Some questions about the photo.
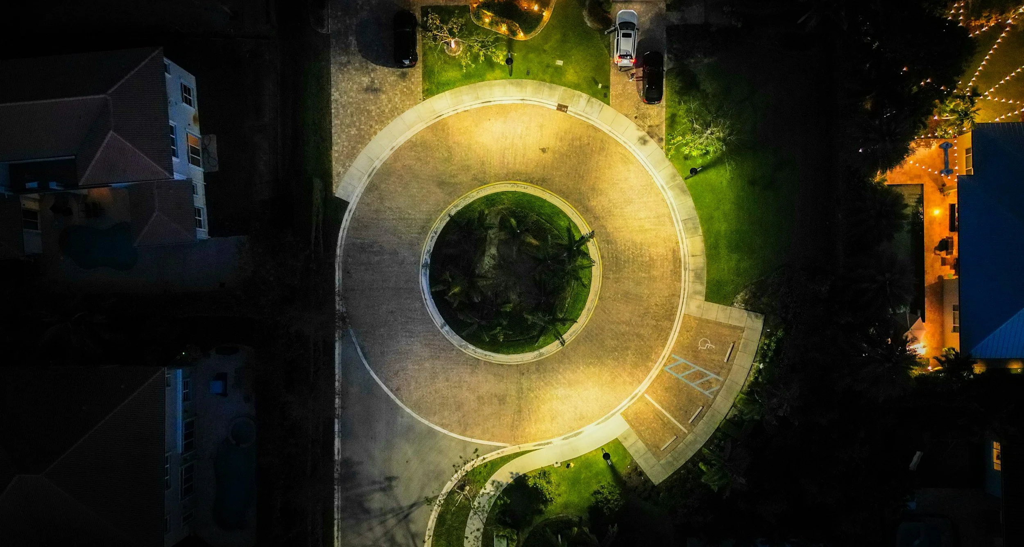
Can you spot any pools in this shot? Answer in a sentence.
Yes, there's a pool down there.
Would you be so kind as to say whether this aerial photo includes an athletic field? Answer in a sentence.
No, there isn't any athletic field down there.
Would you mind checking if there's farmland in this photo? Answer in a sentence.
No, the scene doesn't show any farmland.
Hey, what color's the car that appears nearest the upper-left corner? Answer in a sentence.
The car that appears nearest the upper-left corner looks black in the image.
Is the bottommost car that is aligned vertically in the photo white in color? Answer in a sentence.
No, from above the bottommost car that is aligned vertically looks black.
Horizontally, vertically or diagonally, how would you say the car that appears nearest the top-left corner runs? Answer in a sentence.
In this picture, the car that appears nearest the top-left corner lies vertically.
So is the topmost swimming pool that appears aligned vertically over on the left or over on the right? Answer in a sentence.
It is on the right.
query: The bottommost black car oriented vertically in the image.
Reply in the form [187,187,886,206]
[640,51,667,106]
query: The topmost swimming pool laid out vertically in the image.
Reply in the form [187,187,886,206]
[880,184,924,304]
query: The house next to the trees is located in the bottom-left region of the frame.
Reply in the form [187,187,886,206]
[0,366,198,547]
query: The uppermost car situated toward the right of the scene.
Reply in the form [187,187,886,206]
[603,10,640,68]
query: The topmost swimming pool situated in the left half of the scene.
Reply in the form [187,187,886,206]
[59,221,140,271]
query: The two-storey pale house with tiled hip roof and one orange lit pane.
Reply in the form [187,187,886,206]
[0,46,209,261]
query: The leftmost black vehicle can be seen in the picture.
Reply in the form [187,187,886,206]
[390,11,420,69]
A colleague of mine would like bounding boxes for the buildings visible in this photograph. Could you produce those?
[984,430,1024,547]
[0,46,209,261]
[943,111,1024,359]
[0,366,198,547]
